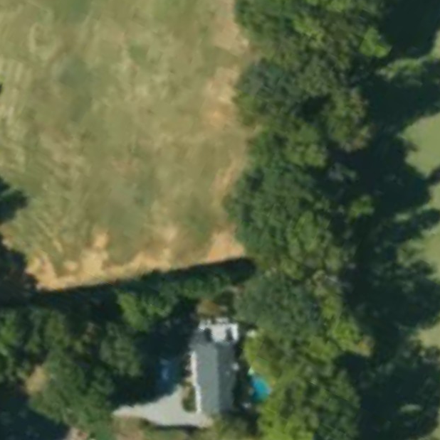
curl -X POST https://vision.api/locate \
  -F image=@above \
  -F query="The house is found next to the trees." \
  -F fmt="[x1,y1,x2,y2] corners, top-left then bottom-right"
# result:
[196,347,238,416]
